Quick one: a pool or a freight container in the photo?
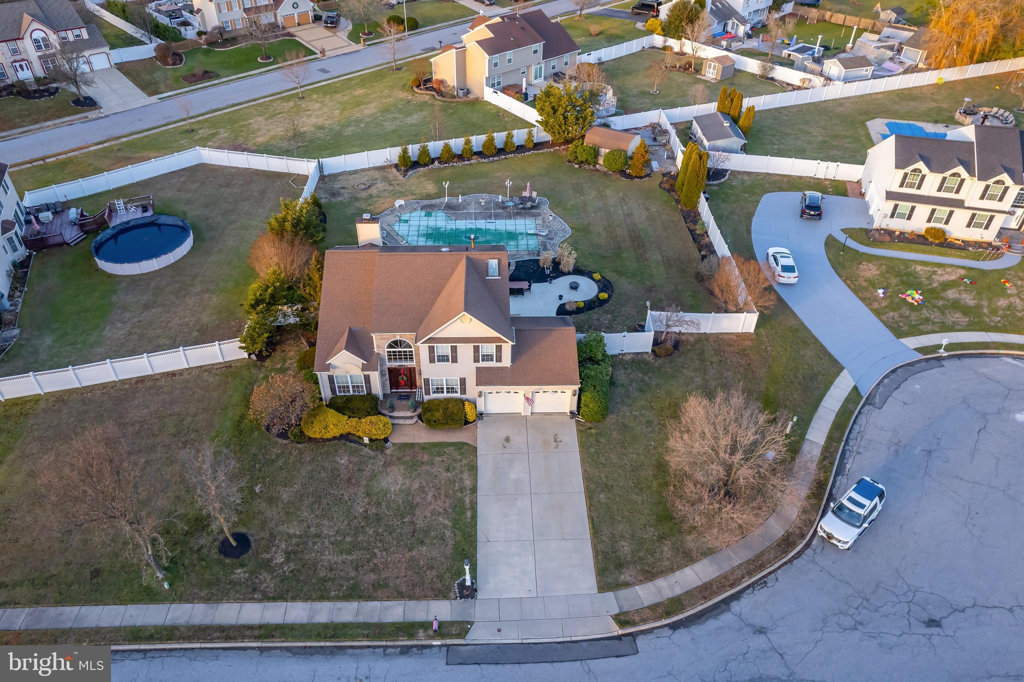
pool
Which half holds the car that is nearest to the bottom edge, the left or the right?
right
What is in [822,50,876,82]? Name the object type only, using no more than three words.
shed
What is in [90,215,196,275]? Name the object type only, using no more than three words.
swimming pool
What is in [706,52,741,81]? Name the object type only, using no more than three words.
shed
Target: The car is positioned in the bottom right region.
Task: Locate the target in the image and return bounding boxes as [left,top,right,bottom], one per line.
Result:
[819,468,888,549]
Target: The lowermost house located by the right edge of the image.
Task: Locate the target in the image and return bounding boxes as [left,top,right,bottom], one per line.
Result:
[863,126,1024,251]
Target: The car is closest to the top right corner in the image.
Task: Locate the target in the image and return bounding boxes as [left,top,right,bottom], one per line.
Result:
[801,187,827,215]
